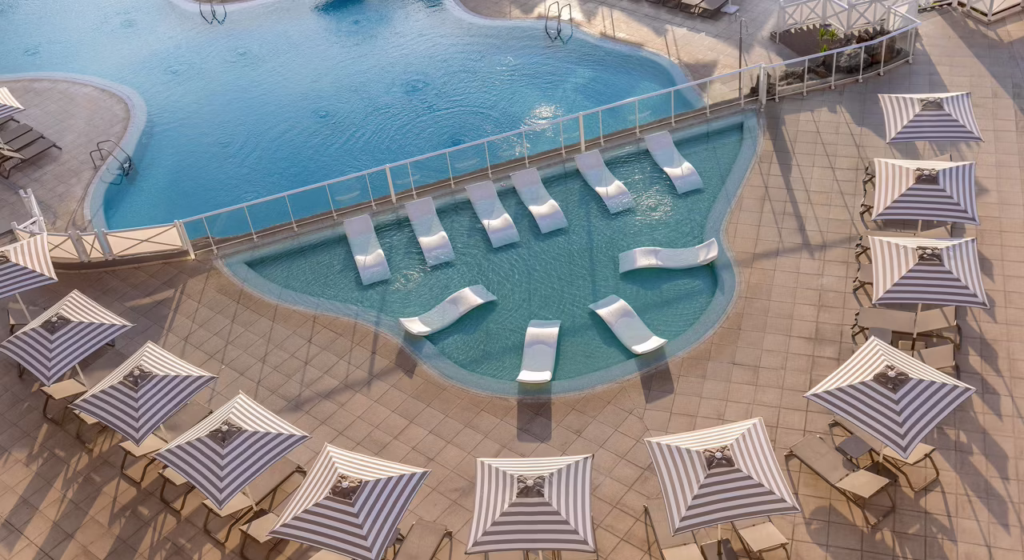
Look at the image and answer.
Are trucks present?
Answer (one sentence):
No, the picture doesn't show any truck.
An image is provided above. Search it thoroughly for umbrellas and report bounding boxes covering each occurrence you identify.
[717,0,744,16]
[867,236,989,359]
[804,335,978,494]
[152,388,312,523]
[0,290,134,389]
[0,231,57,322]
[68,340,221,469]
[870,161,978,238]
[877,92,983,163]
[642,416,801,560]
[463,451,594,560]
[267,443,432,560]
